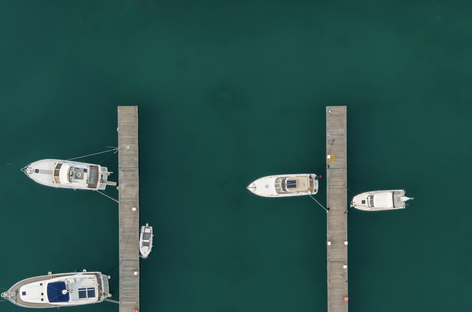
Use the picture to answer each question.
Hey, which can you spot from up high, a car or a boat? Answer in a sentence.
This aerial view contains a boat.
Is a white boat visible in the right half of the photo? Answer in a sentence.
Yes, in the right half of the photo there is a white boat.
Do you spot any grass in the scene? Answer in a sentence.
No, grass can't be seen anywhere here.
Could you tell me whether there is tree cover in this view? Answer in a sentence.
No, the scene doesn't show any tree cover.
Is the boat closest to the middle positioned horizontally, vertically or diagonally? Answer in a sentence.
Seen from above, the boat closest to the middle lies horizontally.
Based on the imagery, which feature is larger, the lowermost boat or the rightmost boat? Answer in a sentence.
The lowermost boat covers a greater area than the rightmost boat.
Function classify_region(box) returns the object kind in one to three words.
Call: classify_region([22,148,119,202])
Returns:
boat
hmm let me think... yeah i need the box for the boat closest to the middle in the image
[248,174,327,211]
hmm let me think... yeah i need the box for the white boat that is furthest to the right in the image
[346,187,414,212]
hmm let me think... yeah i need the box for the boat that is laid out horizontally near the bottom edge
[1,265,119,308]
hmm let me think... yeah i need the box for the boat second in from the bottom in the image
[139,222,153,258]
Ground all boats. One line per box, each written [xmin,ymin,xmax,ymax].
[139,222,153,258]
[346,187,414,212]
[22,148,119,202]
[248,174,327,211]
[1,265,119,308]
